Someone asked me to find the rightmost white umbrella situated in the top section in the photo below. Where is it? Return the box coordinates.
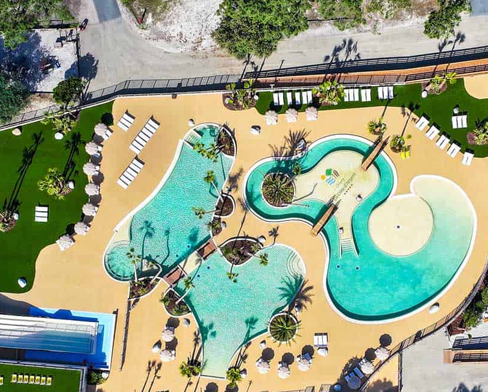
[306,106,319,120]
